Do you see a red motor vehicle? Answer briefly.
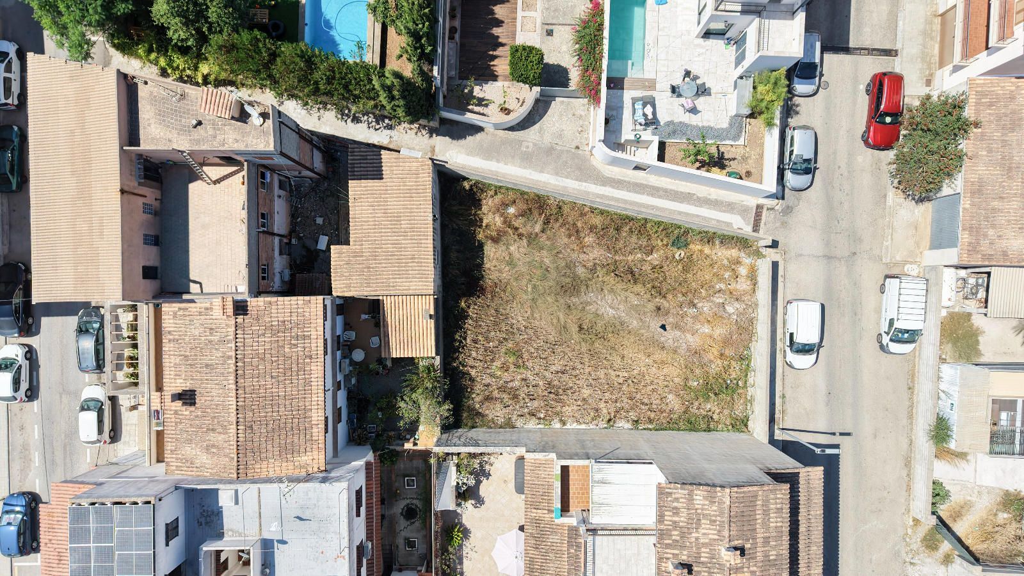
Yes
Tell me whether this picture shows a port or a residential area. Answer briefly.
residential area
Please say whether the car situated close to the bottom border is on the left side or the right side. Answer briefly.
left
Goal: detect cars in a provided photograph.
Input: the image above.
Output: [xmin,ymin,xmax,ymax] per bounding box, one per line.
[0,490,36,556]
[864,76,905,149]
[788,30,824,96]
[75,382,113,445]
[0,343,30,404]
[0,263,32,337]
[780,127,816,192]
[0,126,26,193]
[72,308,105,373]
[0,41,23,111]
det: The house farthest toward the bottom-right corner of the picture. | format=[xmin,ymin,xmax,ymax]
[940,360,1024,458]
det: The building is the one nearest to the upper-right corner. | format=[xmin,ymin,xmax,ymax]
[938,0,1024,89]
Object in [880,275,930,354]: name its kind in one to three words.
van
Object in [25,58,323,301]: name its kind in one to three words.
house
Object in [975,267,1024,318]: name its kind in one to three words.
shed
